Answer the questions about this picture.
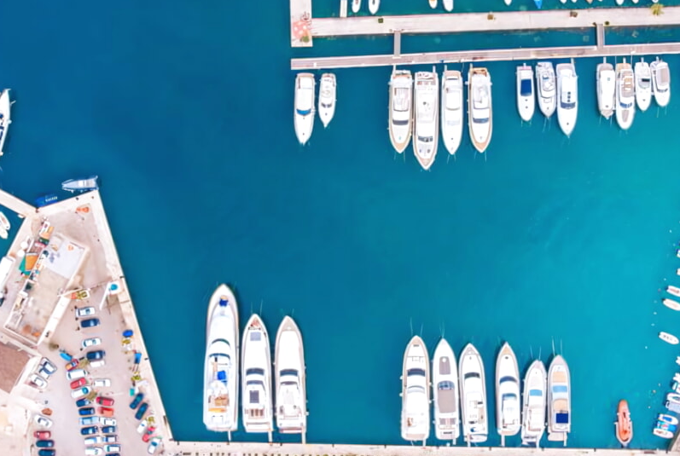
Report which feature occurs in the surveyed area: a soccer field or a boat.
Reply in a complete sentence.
Visible in the photo is a boat.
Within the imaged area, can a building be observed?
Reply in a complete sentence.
Yes, the frame does contain a building.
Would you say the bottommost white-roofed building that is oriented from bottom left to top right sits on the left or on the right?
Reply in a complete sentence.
It is on the left.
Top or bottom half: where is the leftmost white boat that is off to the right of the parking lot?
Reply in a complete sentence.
The leftmost white boat that is off to the right of the parking lot sits in the bottom half of the picture.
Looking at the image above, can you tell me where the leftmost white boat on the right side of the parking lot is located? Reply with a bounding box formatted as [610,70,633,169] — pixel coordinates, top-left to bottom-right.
[203,272,241,442]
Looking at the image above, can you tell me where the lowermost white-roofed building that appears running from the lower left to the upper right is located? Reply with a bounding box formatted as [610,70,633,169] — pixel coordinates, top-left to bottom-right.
[12,351,46,398]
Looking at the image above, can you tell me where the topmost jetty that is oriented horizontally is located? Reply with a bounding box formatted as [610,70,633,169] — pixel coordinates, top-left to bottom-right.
[312,7,680,37]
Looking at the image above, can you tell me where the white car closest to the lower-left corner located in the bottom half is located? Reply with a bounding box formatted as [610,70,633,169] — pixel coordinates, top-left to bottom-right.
[34,415,52,427]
